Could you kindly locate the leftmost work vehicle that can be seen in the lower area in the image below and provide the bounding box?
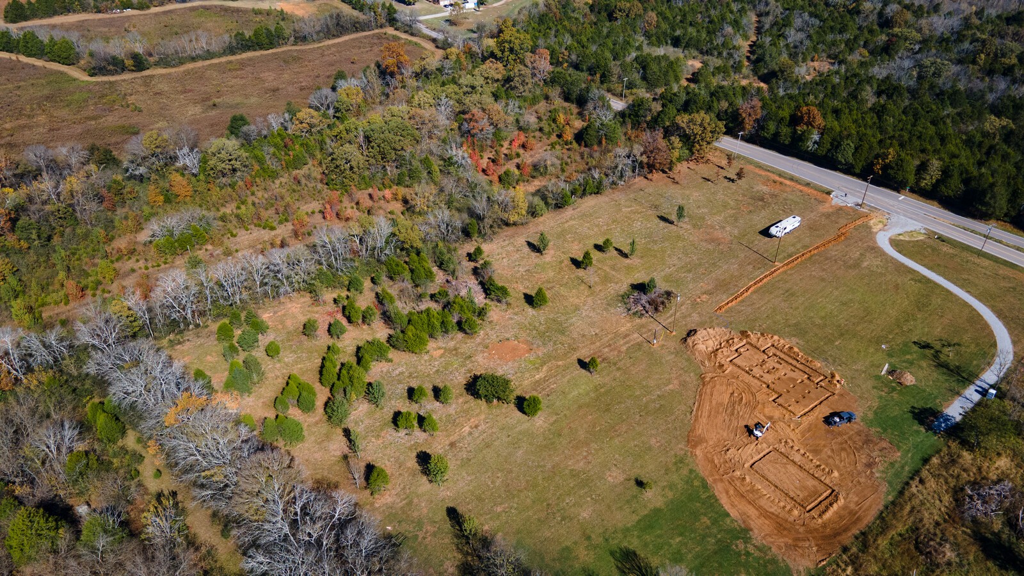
[751,418,773,438]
